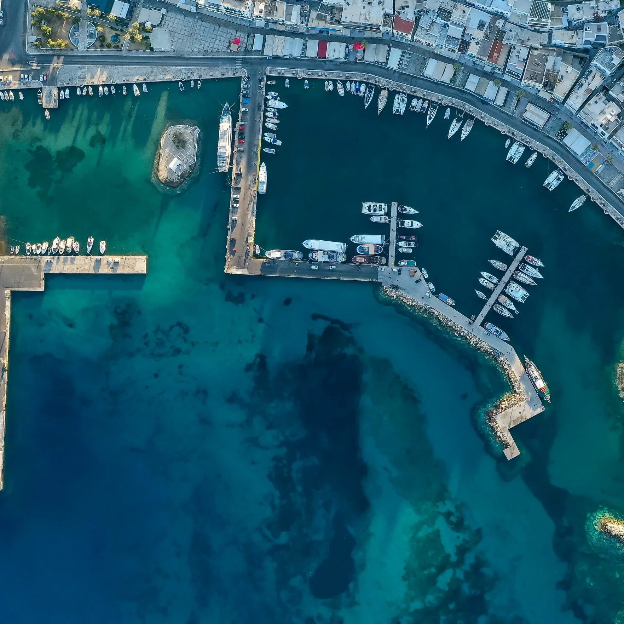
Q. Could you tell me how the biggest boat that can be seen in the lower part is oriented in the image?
diagonally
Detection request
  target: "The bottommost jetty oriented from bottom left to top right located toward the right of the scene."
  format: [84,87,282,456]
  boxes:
[474,247,528,325]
